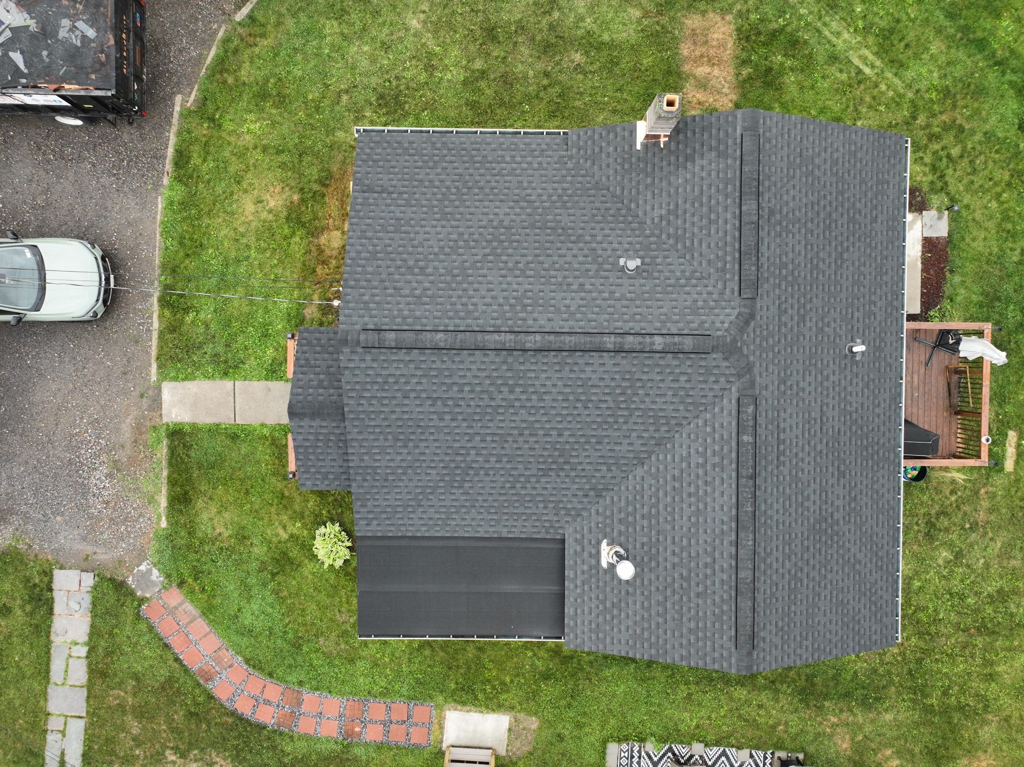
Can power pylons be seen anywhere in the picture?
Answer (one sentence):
No, no power pylon is visible in the view.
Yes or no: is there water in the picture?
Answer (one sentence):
No, there is no water in the image.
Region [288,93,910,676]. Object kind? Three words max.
house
